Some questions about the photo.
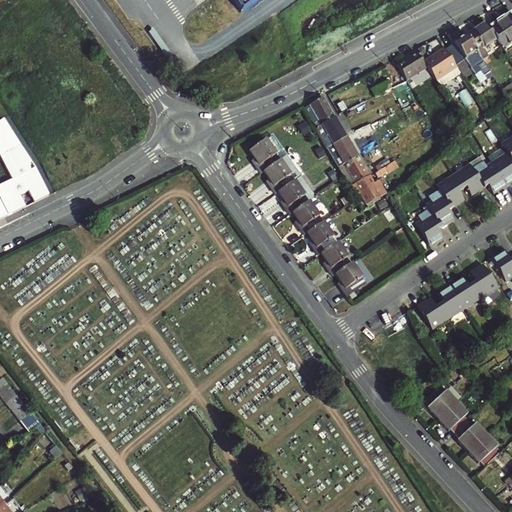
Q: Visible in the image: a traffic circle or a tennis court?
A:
traffic circle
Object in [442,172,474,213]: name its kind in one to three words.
house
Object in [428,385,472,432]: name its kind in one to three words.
house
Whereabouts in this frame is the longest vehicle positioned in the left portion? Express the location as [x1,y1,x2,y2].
[147,26,173,54]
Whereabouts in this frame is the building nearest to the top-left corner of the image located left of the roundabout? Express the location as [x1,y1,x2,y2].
[0,117,52,224]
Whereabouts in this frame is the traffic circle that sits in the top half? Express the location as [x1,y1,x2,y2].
[158,104,208,155]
